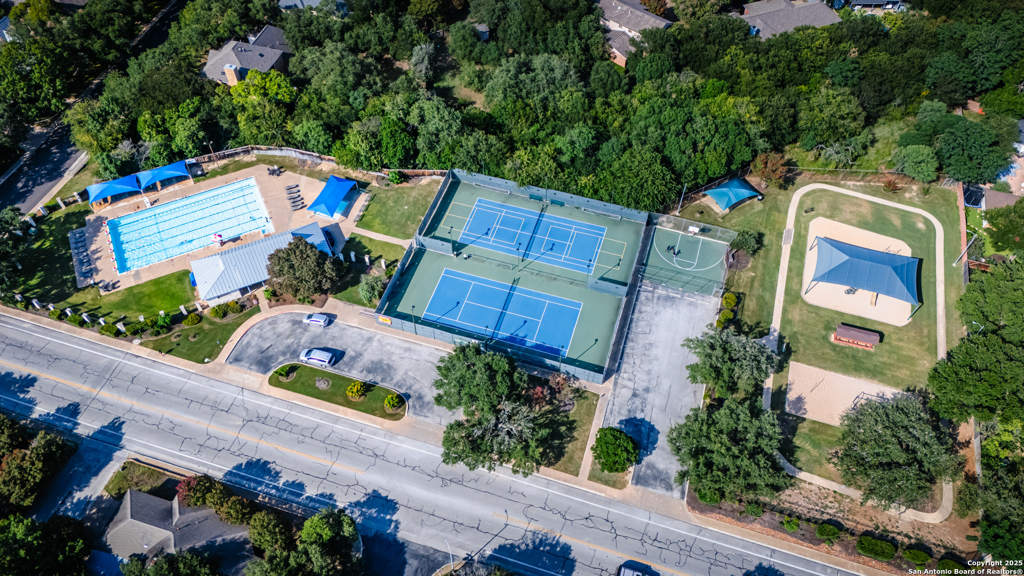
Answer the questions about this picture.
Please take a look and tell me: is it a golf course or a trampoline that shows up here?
trampoline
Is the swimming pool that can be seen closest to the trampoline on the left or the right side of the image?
right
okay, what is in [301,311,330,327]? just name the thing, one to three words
car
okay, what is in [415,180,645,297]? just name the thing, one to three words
tennis court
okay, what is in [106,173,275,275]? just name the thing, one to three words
swimming pool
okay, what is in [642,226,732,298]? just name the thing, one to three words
basketball court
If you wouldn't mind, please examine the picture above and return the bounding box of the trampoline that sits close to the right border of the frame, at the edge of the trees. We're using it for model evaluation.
[963,180,987,205]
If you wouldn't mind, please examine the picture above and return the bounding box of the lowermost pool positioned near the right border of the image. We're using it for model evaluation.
[996,162,1022,188]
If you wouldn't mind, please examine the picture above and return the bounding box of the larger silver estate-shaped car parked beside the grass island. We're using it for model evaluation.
[299,347,333,367]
